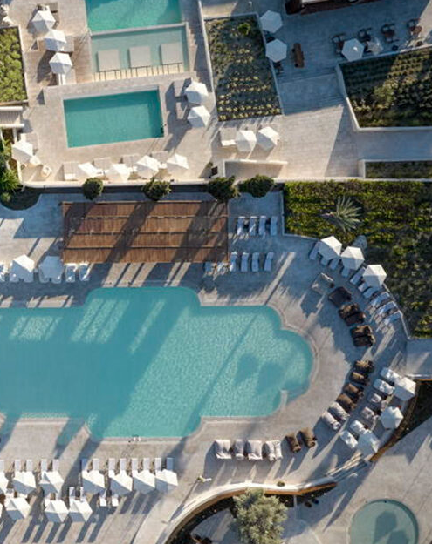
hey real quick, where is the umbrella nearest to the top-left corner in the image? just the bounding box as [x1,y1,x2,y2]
[32,12,54,33]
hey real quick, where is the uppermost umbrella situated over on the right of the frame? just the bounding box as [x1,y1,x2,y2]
[259,12,282,34]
